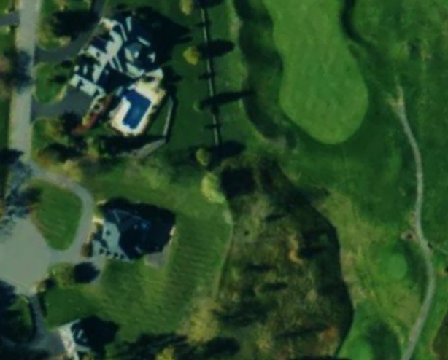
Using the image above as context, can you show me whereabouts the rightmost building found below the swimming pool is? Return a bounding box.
[92,207,160,262]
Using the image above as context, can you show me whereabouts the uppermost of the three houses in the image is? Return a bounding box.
[70,18,153,97]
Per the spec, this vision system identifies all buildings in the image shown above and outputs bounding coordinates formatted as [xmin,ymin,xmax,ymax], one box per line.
[70,18,153,97]
[60,322,93,360]
[92,207,160,262]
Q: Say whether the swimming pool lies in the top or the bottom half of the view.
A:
top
